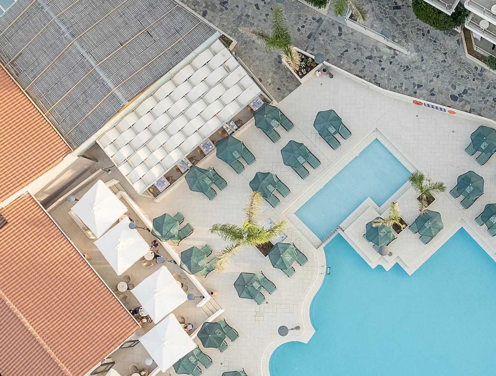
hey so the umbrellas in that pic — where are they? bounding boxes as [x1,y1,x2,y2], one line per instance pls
[454,169,483,198]
[218,138,248,167]
[139,314,197,372]
[71,180,128,237]
[365,216,393,244]
[314,108,343,137]
[179,247,210,276]
[175,353,202,376]
[482,202,496,231]
[154,214,184,244]
[223,369,246,376]
[94,217,149,275]
[199,319,228,347]
[185,163,215,192]
[267,241,297,270]
[251,172,282,202]
[233,274,263,303]
[415,210,445,240]
[282,143,312,173]
[467,125,496,156]
[130,266,188,323]
[253,103,283,132]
